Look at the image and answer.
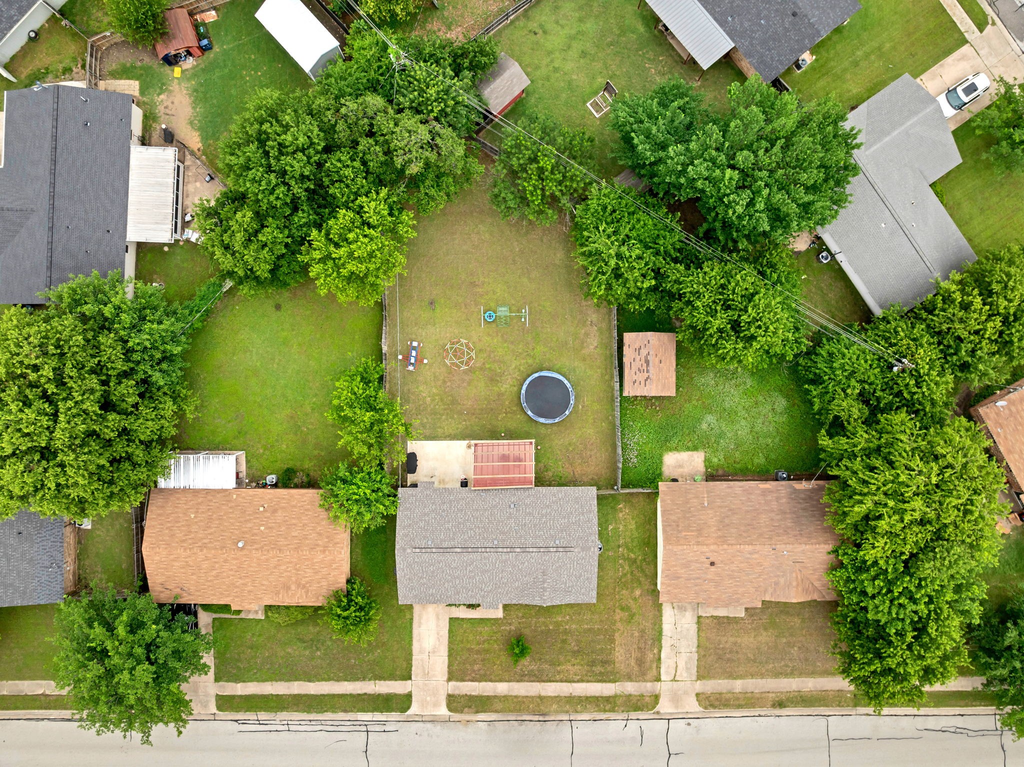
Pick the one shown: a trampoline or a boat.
trampoline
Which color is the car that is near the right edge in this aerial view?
white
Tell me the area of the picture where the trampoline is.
center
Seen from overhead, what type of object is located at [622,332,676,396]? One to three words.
shed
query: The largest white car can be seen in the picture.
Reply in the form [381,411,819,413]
[938,73,991,123]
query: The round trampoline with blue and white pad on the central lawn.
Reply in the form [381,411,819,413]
[521,370,575,424]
